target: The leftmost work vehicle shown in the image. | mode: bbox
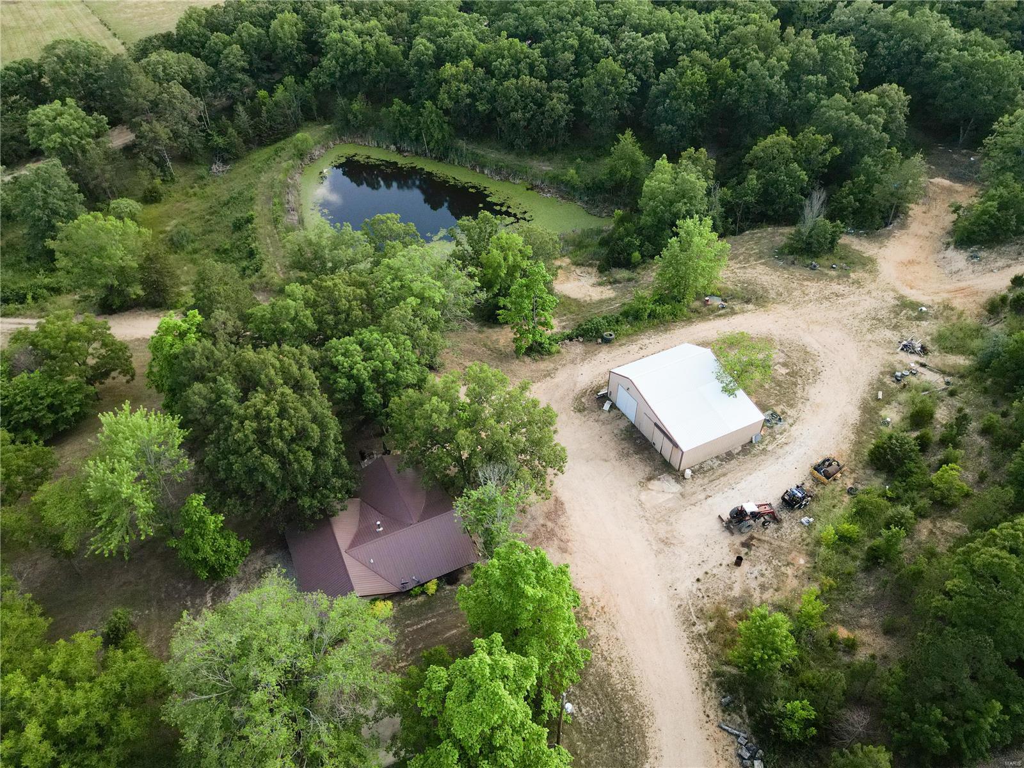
[719,506,776,537]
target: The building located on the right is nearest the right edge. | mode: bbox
[607,343,767,474]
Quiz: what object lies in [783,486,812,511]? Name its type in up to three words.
work vehicle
